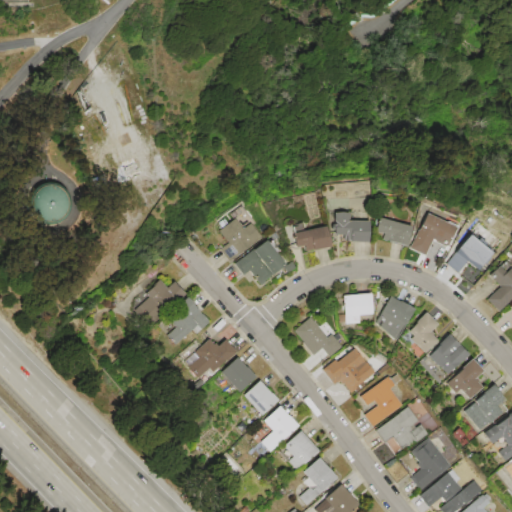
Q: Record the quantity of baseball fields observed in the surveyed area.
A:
none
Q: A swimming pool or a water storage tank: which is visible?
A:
water storage tank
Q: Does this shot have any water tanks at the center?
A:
No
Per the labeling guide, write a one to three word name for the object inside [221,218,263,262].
house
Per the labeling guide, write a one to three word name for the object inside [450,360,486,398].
house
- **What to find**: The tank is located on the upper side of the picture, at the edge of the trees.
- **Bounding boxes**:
[33,183,72,220]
